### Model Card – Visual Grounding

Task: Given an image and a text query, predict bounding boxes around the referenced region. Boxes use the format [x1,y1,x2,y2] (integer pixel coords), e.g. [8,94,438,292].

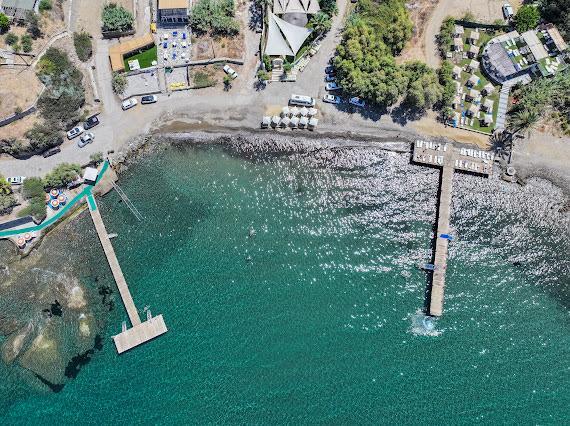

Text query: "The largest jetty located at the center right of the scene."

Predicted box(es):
[410,139,495,316]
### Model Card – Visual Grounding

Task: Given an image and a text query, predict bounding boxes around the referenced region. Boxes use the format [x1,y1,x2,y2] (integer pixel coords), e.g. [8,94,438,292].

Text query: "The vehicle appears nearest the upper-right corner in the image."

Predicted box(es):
[502,1,514,20]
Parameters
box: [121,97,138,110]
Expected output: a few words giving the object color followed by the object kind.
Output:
white vehicle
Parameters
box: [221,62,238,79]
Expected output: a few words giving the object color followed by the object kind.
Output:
white vehicle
